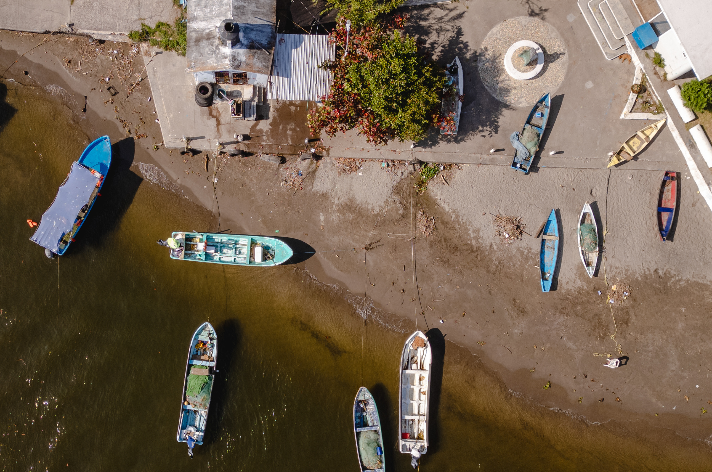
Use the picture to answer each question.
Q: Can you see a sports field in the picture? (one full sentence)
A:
No, no sports field is visible in the view.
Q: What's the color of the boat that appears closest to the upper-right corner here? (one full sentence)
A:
From above, the boat that appears closest to the upper-right corner appears yellow.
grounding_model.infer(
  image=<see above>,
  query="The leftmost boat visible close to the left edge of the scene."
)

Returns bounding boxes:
[30,135,111,261]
